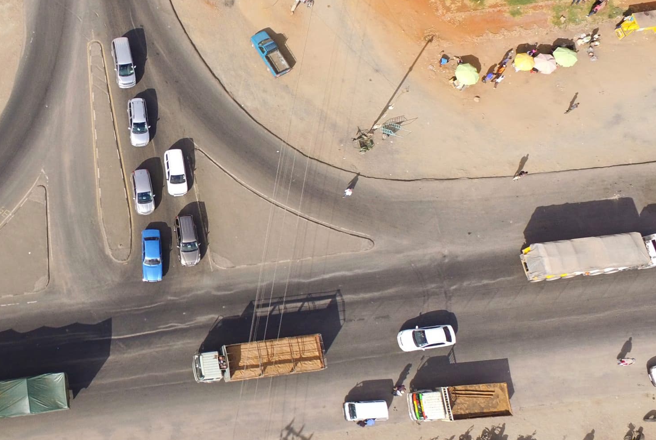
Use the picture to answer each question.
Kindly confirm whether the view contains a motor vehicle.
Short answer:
Yes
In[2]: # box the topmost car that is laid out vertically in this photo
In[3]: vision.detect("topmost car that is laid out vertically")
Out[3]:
[110,34,138,90]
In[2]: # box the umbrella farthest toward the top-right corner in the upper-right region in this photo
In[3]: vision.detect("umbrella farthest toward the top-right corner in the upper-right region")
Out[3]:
[551,49,574,70]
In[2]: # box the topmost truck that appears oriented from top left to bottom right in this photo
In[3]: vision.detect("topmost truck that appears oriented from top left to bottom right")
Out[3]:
[249,30,295,81]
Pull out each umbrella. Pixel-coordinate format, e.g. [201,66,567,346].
[551,49,574,70]
[510,54,531,73]
[531,54,553,76]
[454,64,475,87]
